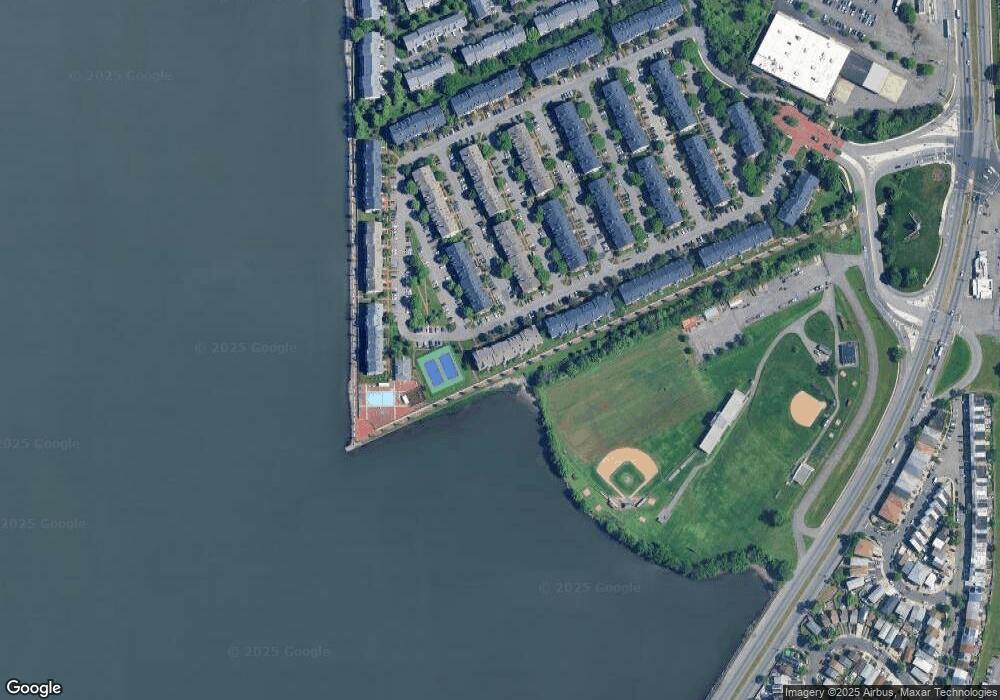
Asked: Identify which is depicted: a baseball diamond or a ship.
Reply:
baseball diamond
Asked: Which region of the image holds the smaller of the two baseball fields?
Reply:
right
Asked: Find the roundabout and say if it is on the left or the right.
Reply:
right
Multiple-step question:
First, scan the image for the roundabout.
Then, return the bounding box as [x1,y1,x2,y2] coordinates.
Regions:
[836,80,1000,374]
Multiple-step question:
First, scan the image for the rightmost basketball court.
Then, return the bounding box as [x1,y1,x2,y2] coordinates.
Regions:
[838,341,858,367]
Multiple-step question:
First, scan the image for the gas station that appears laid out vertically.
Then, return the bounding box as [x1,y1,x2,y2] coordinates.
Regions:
[973,251,992,299]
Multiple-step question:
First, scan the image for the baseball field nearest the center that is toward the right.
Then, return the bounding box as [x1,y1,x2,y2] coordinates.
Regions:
[550,342,704,510]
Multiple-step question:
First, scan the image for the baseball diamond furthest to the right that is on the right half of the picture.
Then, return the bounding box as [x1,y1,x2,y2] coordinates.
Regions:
[790,390,826,428]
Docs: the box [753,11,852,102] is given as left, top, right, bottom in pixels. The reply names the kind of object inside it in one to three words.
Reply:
building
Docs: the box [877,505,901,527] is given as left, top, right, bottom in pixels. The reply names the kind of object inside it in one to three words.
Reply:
house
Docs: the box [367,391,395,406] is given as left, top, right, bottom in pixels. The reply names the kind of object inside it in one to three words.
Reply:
swimming pool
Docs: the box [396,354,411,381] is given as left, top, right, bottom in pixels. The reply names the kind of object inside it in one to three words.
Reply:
building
